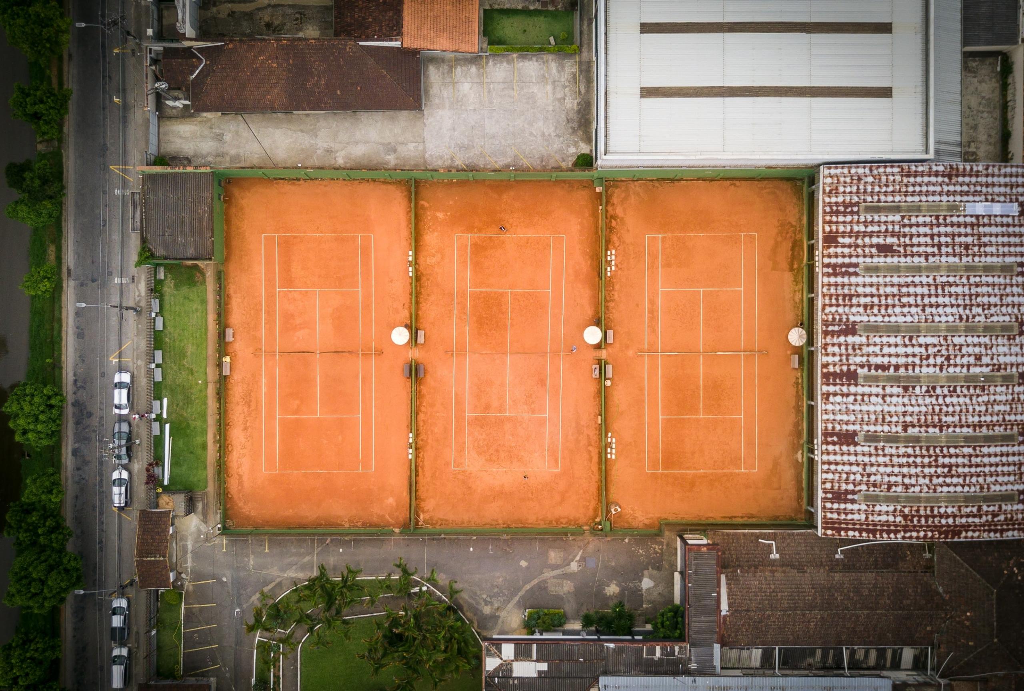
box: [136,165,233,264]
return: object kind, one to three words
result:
building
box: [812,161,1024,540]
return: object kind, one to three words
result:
building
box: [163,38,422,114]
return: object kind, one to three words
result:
house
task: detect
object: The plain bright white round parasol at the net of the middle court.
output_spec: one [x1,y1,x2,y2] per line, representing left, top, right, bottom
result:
[583,326,602,344]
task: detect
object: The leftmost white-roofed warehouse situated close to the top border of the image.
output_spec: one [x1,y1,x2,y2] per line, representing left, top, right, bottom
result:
[589,0,934,170]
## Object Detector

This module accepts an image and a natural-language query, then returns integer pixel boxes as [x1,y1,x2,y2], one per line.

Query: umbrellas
[391,327,410,345]
[788,327,806,345]
[583,326,602,344]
